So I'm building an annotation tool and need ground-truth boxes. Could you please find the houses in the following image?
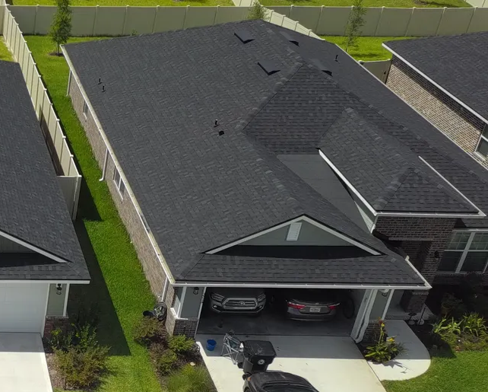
[0,59,94,335]
[59,19,488,344]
